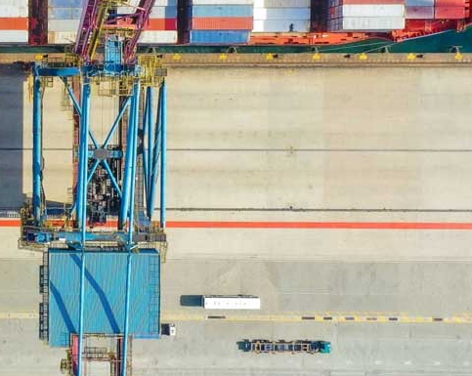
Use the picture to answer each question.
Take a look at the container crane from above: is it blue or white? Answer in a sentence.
The container crane is blue.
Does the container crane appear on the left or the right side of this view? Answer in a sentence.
The container crane appears in the left half of the scene.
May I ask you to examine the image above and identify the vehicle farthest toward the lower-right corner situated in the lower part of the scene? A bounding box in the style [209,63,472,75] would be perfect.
[244,339,330,353]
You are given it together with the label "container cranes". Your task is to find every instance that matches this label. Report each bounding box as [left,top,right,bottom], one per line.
[12,0,176,376]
